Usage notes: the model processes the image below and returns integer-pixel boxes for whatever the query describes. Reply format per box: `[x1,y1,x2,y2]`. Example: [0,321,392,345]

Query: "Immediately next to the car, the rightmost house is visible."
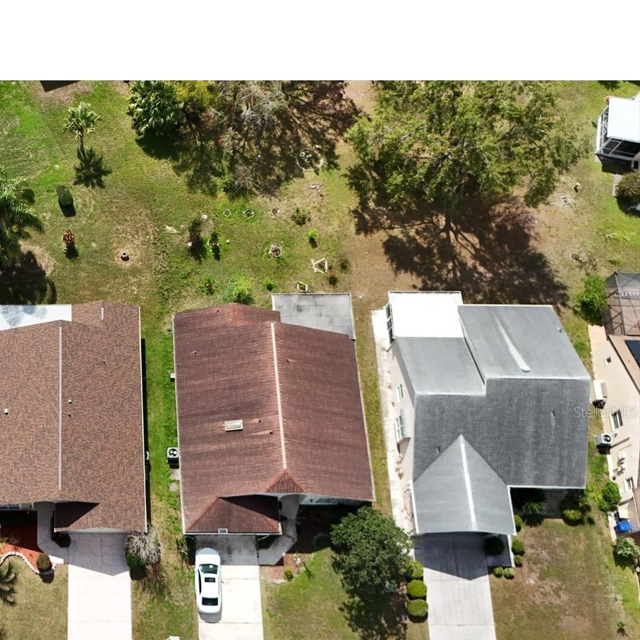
[173,293,374,535]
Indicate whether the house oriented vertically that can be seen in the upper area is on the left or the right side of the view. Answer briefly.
right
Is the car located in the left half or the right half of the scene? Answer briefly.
left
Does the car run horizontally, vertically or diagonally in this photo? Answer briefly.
vertically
